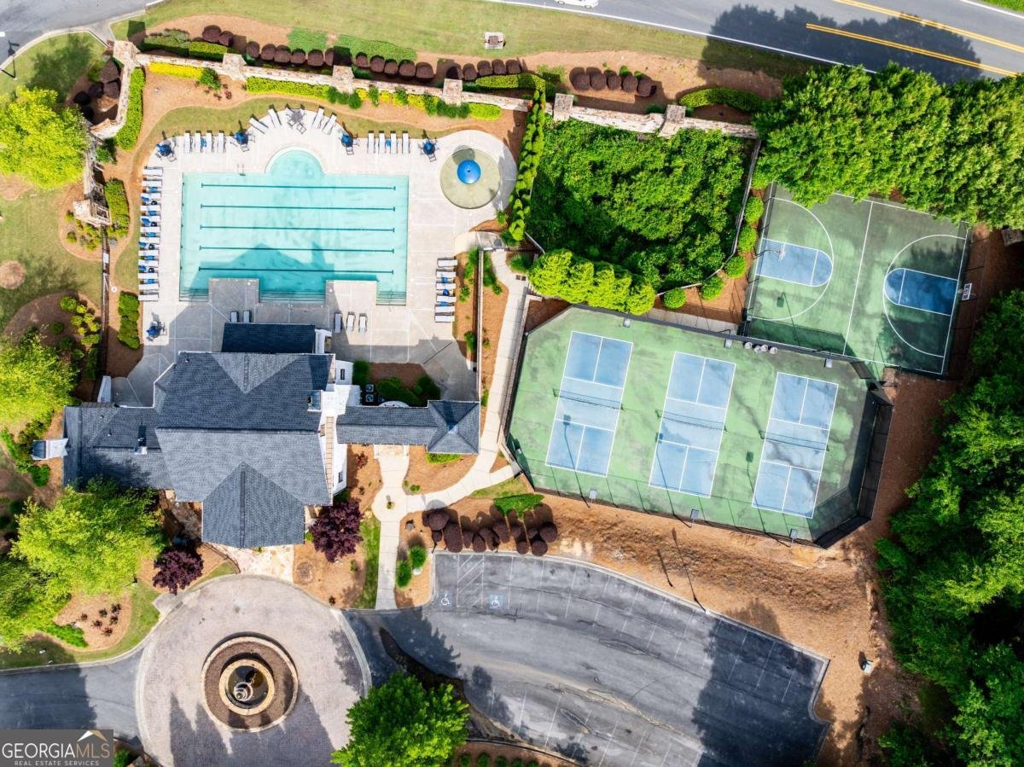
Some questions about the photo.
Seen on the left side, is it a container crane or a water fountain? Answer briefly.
water fountain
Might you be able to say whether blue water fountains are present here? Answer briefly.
Yes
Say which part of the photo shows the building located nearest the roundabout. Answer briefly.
left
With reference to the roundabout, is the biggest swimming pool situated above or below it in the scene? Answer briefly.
above it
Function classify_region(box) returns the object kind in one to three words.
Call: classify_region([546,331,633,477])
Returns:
sports court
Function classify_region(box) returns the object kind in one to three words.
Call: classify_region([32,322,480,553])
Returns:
building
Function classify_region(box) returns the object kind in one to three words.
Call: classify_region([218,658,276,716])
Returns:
fountain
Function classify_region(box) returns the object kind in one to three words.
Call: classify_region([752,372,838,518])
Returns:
sports court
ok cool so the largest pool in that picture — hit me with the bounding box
[111,108,517,406]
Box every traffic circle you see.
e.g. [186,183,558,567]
[136,575,371,767]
